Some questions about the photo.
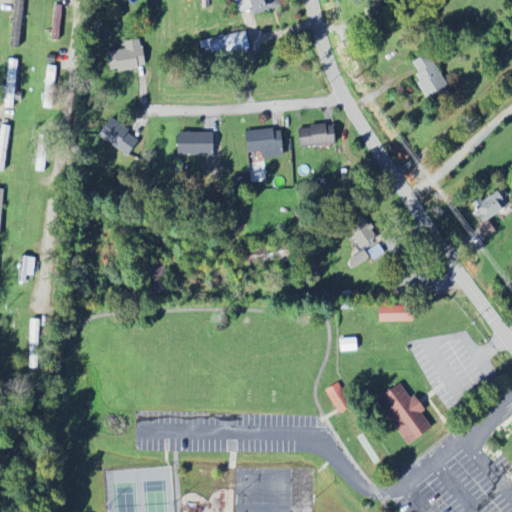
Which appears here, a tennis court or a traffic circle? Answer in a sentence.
I can see a tennis court in this picture.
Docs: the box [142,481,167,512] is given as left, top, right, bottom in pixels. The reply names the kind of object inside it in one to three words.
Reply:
tennis court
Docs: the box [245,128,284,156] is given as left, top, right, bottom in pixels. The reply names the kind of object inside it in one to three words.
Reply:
house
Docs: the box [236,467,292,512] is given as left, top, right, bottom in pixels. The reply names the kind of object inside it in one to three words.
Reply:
basketball court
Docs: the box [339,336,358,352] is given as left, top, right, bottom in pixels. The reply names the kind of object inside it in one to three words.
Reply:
shed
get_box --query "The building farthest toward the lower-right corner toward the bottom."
[380,384,432,444]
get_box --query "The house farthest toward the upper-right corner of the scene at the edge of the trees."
[414,54,449,96]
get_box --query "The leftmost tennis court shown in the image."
[113,484,138,512]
